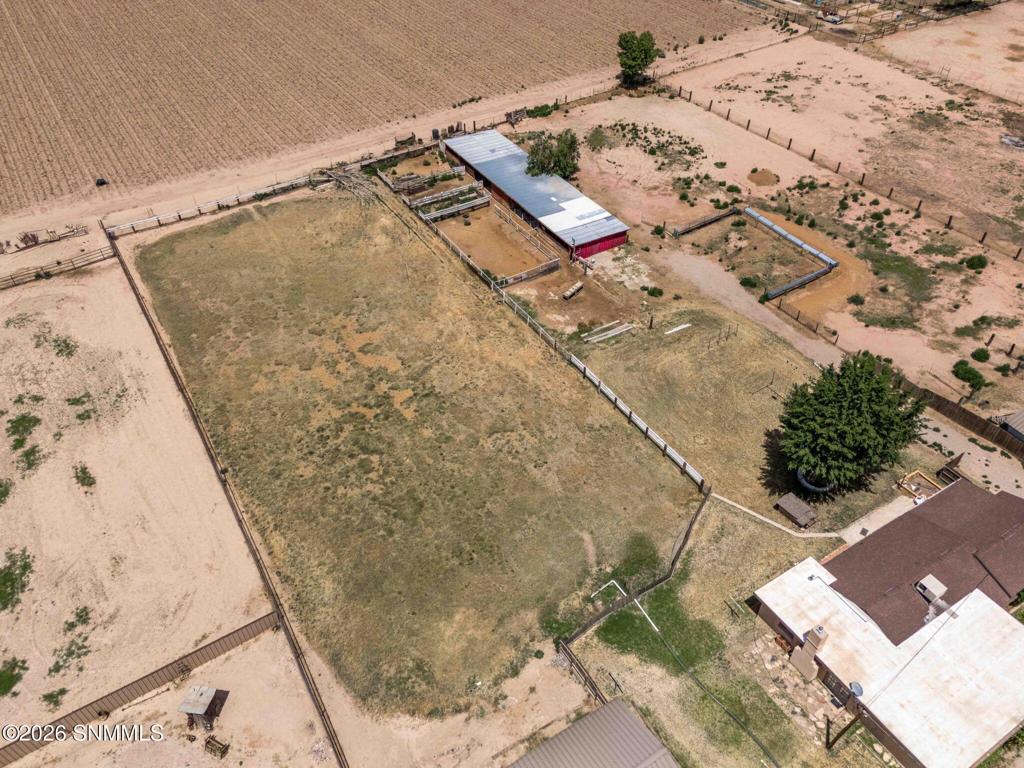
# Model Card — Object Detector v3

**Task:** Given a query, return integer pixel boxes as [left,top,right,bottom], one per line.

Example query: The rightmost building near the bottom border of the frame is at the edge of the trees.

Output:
[753,475,1024,768]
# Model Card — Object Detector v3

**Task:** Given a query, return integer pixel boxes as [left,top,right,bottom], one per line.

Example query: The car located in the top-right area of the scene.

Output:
[816,8,849,24]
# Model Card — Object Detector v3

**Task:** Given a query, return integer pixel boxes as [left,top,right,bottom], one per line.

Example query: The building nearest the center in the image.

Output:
[443,131,633,263]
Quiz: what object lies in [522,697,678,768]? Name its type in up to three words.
shed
